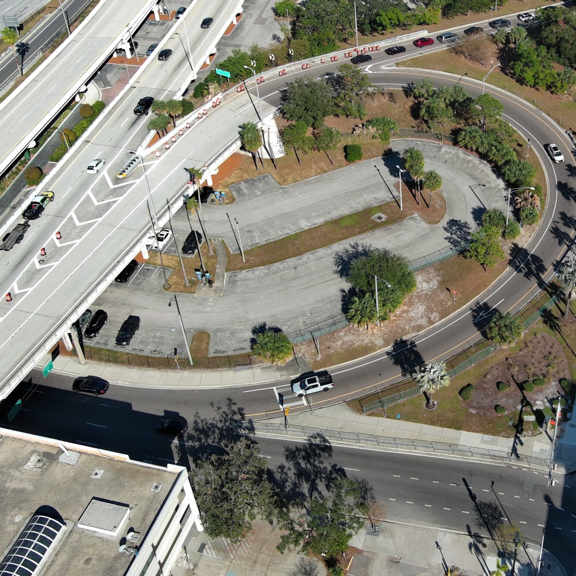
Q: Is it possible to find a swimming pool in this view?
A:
No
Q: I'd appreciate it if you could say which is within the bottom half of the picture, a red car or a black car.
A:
black car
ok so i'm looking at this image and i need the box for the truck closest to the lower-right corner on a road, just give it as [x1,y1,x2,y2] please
[292,373,334,395]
